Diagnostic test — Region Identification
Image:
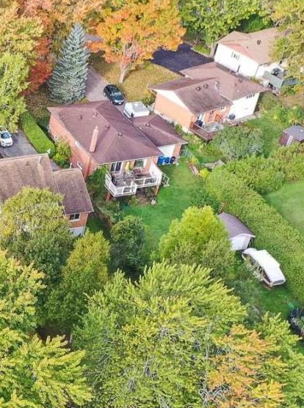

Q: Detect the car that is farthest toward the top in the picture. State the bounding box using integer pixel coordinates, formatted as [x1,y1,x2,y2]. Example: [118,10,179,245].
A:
[106,79,126,101]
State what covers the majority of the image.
trees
